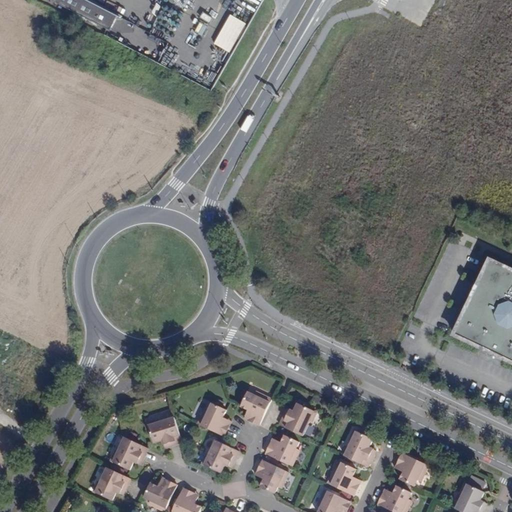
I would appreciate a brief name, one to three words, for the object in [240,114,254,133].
vehicle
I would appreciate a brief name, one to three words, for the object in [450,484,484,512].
house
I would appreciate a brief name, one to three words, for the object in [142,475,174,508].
house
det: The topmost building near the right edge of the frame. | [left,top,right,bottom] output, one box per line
[450,256,512,363]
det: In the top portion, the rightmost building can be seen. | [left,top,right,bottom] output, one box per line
[214,15,246,52]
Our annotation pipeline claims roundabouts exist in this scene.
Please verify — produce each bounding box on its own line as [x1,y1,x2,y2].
[74,204,227,357]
